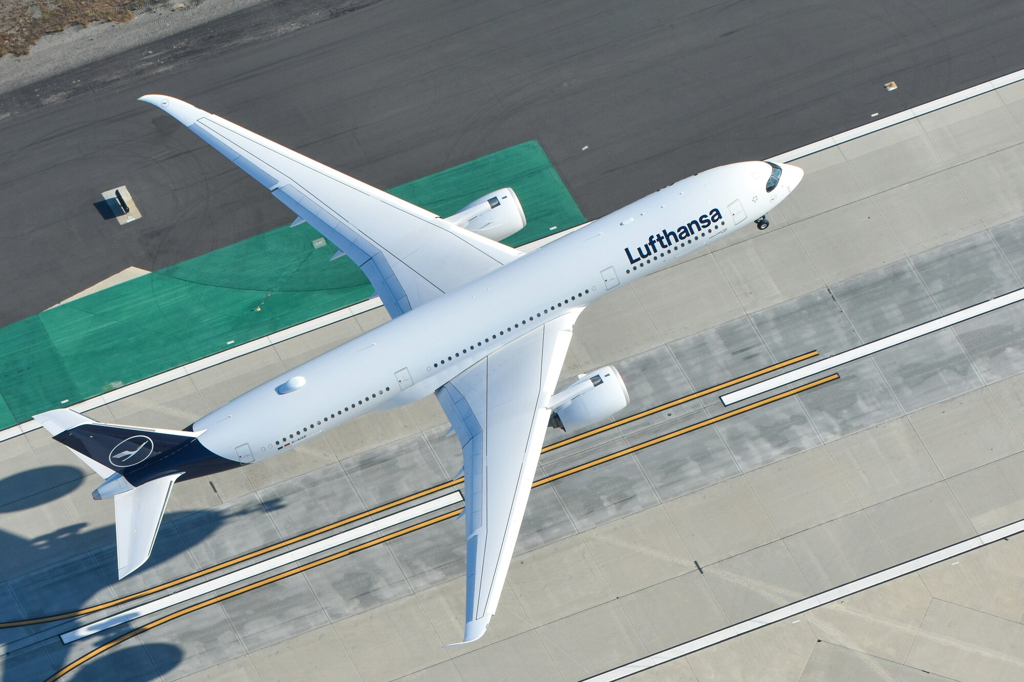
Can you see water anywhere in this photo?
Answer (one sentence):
No, no water is visible.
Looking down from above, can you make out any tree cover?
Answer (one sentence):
No, tree cover can't be seen anywhere here.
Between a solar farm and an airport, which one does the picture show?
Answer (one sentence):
This looks like an airport.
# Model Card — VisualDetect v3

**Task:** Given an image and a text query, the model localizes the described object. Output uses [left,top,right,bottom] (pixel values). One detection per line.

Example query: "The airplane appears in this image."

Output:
[31,93,804,650]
